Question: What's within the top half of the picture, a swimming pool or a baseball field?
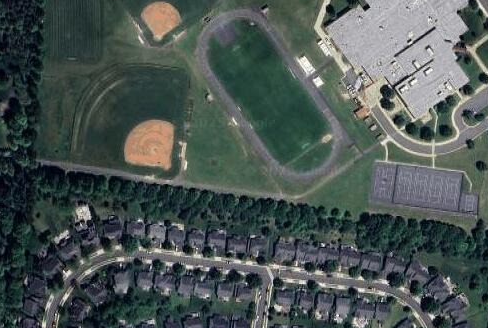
baseball field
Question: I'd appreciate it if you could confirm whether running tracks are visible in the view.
Yes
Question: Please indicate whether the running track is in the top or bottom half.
top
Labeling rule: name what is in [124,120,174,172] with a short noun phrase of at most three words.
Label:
baseball field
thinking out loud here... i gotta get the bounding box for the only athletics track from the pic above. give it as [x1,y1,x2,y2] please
[194,9,348,180]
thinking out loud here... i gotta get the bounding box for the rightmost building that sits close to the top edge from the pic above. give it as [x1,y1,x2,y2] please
[325,0,468,118]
